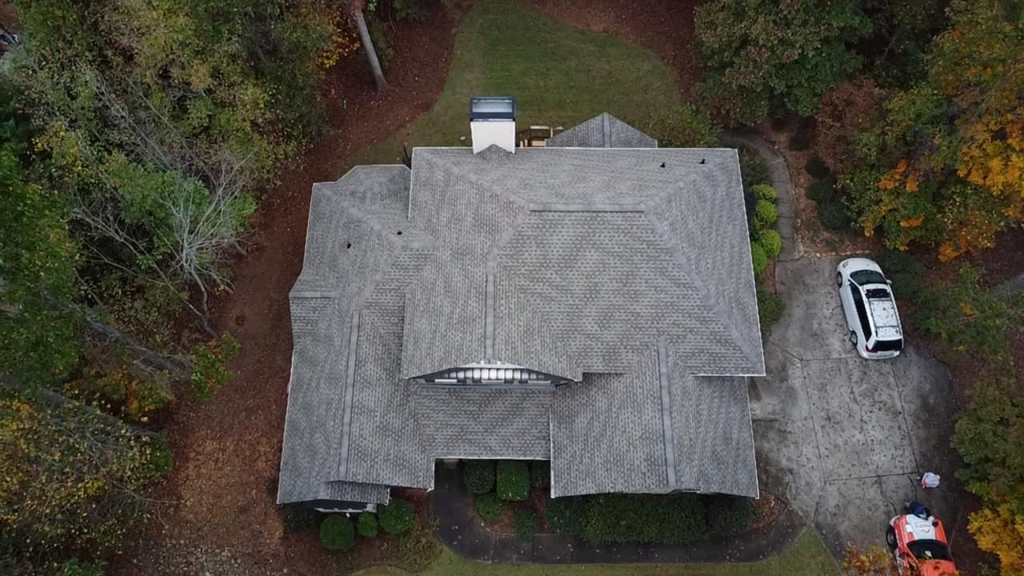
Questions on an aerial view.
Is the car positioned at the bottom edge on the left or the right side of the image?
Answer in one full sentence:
It is on the right.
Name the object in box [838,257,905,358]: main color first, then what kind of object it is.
white car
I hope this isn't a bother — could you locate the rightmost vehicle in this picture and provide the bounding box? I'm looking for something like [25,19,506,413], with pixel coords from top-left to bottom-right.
[885,510,960,576]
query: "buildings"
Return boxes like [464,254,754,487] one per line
[279,94,764,513]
